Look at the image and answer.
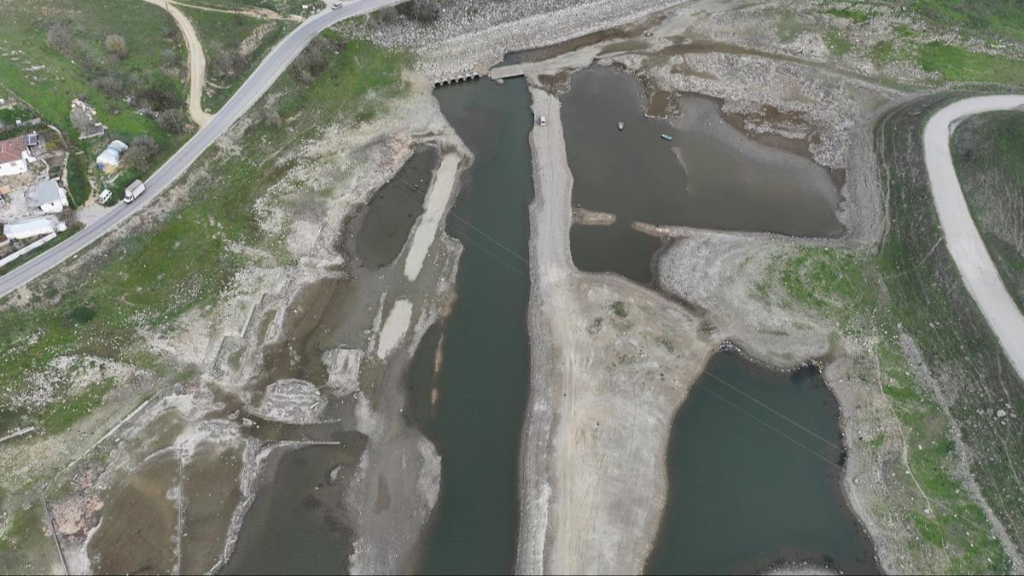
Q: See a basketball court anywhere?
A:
No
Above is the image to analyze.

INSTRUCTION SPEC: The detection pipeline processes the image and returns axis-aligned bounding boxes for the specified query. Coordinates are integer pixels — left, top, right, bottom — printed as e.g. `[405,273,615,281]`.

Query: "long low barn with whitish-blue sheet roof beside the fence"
[3,215,56,241]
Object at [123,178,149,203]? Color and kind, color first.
white truck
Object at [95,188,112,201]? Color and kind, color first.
white vehicle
